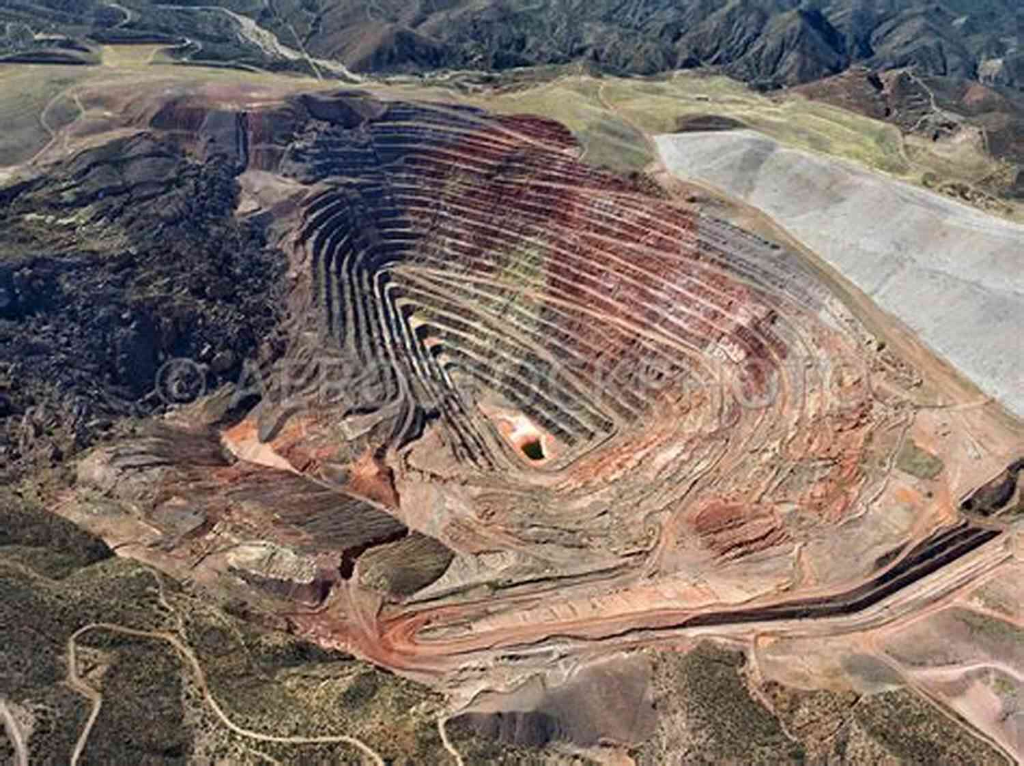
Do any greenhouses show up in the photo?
No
